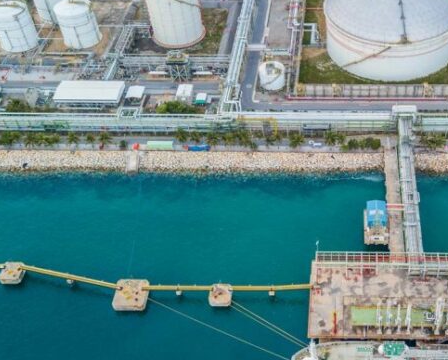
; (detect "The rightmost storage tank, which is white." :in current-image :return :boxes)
[324,0,448,82]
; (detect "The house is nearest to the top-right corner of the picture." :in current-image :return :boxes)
[390,105,418,132]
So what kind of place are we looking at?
industrial area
